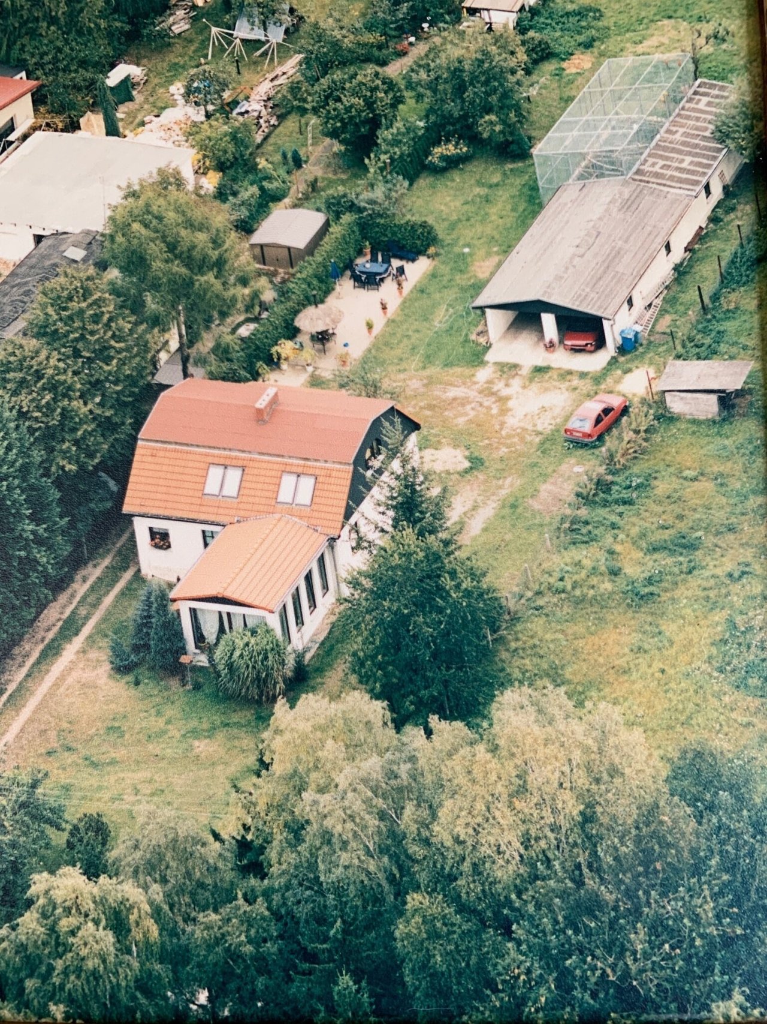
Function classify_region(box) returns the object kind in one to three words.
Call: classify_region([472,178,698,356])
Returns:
building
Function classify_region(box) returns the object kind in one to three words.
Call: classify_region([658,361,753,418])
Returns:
shed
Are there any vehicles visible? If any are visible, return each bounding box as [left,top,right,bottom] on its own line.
[566,392,630,446]
[570,321,607,351]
